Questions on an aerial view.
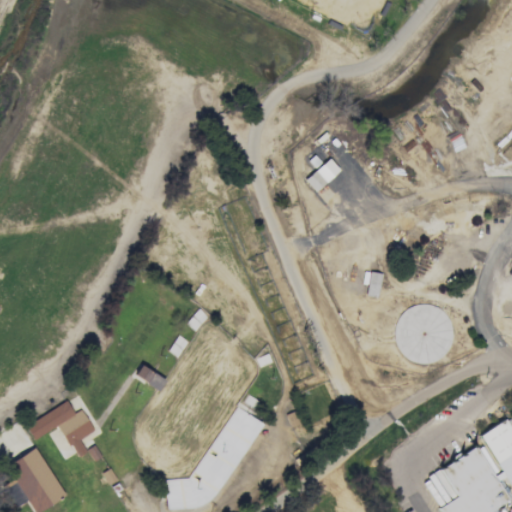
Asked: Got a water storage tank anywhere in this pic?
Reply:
Yes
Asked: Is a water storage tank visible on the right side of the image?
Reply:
Yes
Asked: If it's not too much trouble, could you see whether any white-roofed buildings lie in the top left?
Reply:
No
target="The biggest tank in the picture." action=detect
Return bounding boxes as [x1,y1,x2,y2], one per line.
[396,305,454,364]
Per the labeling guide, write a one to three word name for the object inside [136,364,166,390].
barn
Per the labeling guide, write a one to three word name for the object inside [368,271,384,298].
shed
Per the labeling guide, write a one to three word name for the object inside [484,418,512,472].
building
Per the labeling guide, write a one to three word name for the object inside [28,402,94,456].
house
